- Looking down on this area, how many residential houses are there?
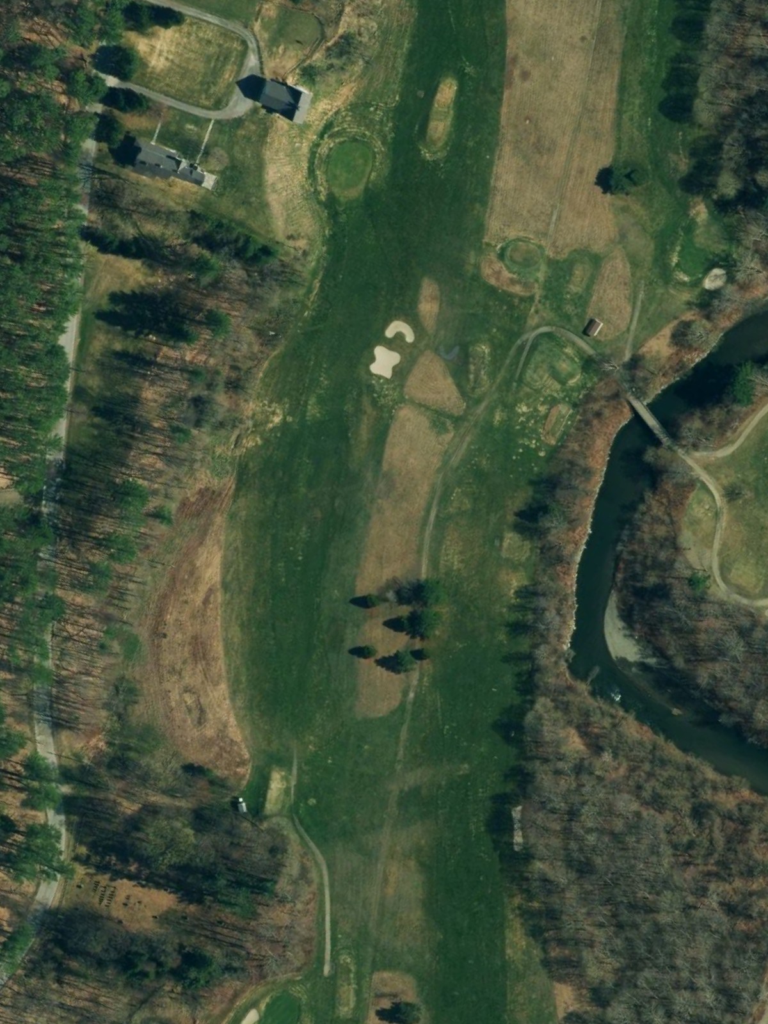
2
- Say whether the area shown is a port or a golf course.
golf course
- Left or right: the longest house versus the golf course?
to its left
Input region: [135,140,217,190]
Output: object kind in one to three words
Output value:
house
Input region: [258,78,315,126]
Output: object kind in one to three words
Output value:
house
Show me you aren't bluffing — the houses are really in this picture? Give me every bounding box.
[135,140,217,190]
[258,78,315,126]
